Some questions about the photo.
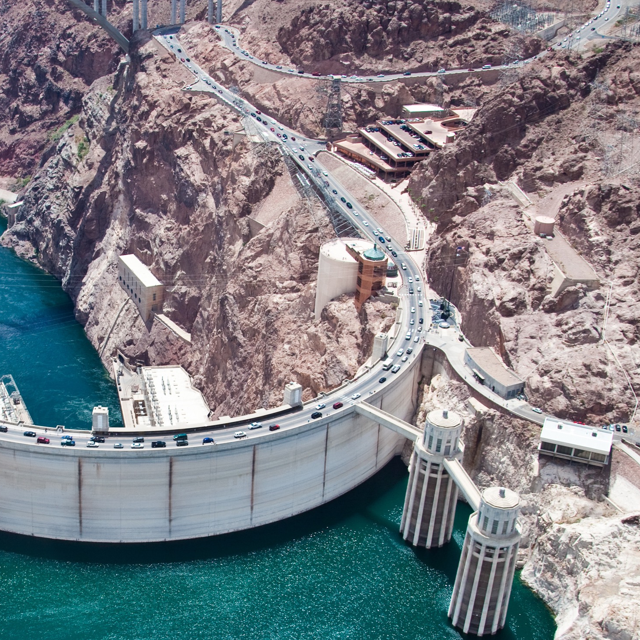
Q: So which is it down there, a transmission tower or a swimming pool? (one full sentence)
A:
Looking from above, you can make out a transmission tower.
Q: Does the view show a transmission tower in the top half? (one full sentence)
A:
Yes, a transmission tower appears in the top half.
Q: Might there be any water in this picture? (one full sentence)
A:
Yes, the picture does contain water.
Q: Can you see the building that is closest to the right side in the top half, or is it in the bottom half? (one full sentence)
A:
It is in the bottom half that the building that is closest to the right side appears.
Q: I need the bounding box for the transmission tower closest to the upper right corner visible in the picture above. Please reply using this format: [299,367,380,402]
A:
[618,5,637,41]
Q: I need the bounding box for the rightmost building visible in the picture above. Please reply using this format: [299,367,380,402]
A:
[535,416,614,486]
